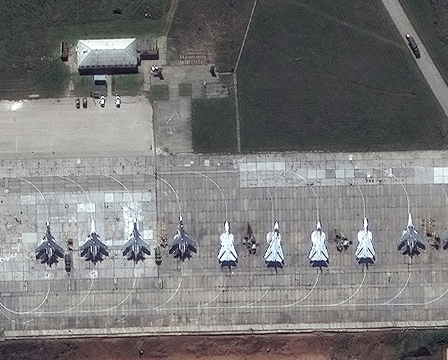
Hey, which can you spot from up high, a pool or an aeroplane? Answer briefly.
aeroplane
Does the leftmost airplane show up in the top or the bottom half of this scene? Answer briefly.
bottom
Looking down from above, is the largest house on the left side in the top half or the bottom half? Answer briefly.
top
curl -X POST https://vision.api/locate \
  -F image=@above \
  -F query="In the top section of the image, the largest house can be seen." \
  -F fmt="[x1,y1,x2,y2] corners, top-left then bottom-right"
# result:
[77,38,138,70]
